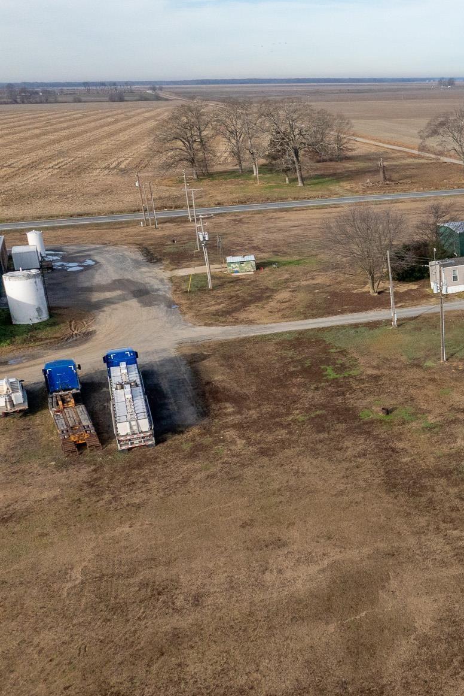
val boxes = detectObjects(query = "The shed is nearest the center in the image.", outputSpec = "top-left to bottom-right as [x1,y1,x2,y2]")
[224,252,258,274]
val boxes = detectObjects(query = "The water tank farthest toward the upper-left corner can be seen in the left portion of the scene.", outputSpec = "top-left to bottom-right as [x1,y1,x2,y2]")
[26,229,56,262]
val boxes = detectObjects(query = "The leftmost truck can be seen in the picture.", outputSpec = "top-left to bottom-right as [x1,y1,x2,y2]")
[0,375,32,419]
